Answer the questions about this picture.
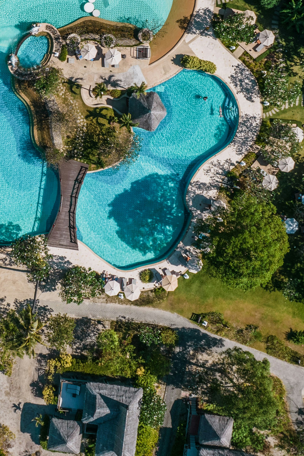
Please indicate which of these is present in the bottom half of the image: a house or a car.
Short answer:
house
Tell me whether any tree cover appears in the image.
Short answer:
Yes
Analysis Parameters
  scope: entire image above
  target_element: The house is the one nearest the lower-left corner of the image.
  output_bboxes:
[47,415,82,455]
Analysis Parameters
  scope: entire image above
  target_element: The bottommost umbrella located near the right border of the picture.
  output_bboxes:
[283,219,298,233]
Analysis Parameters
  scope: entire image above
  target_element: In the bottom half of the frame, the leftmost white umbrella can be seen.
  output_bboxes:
[105,280,120,296]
